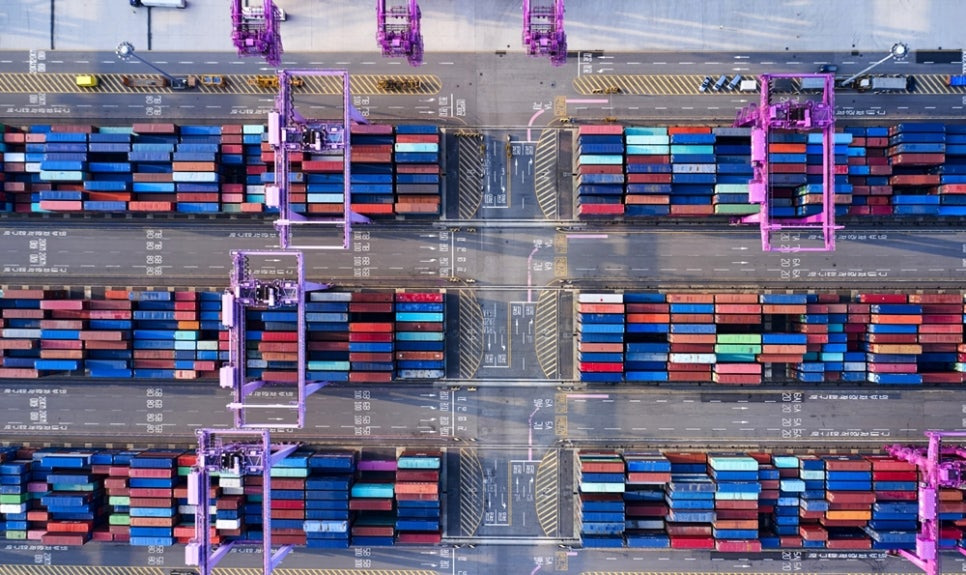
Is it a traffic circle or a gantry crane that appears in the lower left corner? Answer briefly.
gantry crane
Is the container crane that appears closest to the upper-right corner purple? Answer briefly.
Yes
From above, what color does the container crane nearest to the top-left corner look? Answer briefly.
purple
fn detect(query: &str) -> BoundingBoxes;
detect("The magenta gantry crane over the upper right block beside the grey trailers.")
[729,73,841,250]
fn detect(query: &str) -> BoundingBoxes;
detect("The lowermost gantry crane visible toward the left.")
[185,427,310,575]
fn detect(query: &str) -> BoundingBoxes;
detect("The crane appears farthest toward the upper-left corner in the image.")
[232,0,286,71]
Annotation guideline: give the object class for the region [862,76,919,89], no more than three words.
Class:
vehicle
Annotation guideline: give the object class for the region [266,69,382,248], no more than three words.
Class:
container crane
